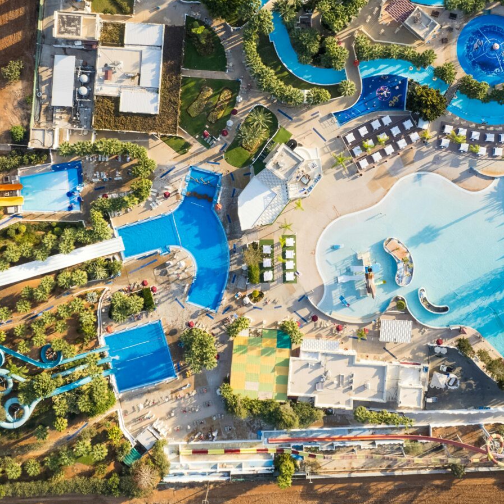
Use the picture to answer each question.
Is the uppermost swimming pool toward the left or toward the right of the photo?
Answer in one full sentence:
The uppermost swimming pool appears in the right half of the scene.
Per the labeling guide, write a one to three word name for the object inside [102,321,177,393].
swimming pool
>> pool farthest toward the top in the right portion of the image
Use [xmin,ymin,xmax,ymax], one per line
[457,13,504,84]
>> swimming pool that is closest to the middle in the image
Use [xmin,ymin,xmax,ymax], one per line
[116,168,230,312]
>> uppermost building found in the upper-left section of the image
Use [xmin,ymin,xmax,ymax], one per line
[52,12,102,42]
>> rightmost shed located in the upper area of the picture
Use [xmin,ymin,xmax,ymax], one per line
[402,6,441,42]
